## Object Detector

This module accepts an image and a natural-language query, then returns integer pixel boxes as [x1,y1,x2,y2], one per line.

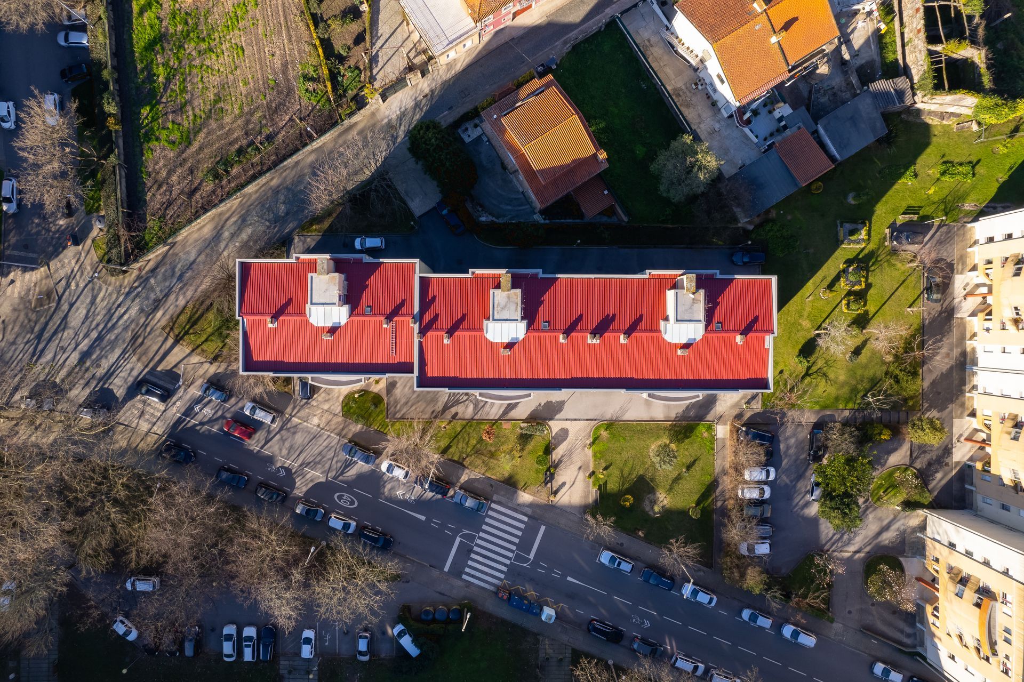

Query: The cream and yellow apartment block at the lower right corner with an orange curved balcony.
[913,510,1024,682]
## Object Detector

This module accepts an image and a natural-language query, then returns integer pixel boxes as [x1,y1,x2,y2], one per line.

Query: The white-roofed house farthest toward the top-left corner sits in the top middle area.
[397,0,482,66]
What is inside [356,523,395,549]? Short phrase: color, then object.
black car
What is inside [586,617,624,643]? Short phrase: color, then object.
black car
